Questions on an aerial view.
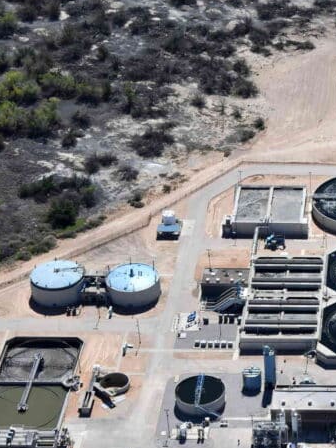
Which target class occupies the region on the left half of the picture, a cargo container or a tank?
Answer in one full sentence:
There is a tank on the left half of the picture.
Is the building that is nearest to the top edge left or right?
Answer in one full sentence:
The building that is nearest to the top edge appears in the right half of the scene.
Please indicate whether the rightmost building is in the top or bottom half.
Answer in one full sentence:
It is in the bottom half that the rightmost building appears.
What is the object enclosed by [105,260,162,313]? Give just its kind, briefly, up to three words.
storage tank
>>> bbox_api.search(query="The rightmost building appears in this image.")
[270,384,336,429]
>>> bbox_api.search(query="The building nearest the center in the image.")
[200,266,252,308]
